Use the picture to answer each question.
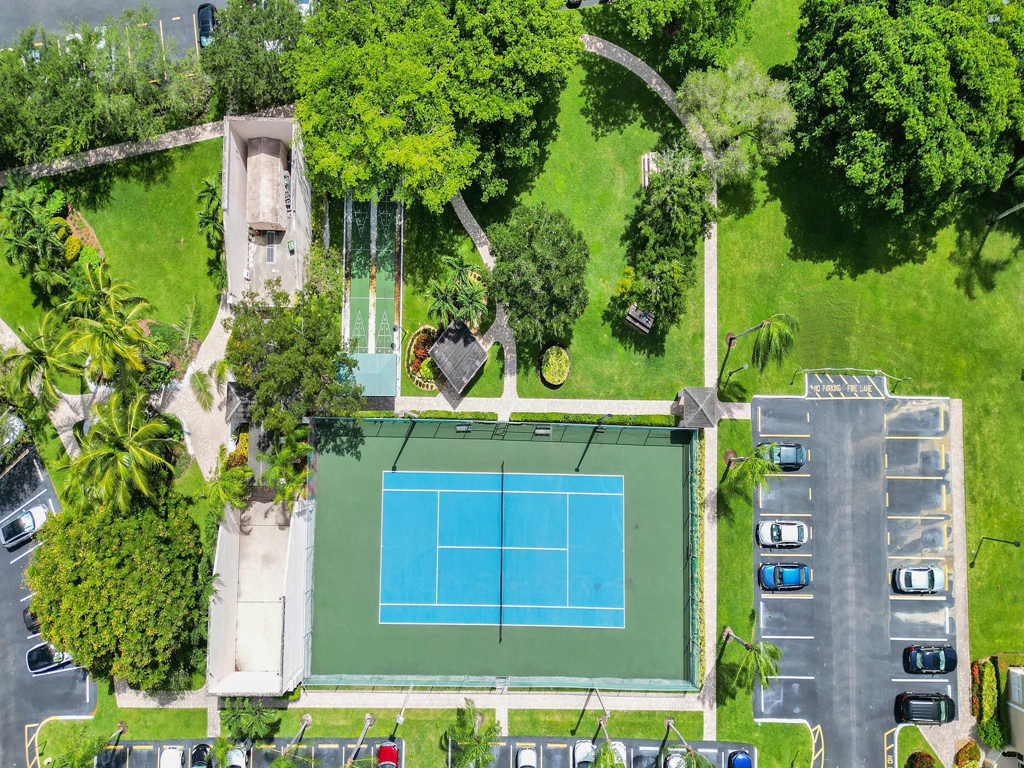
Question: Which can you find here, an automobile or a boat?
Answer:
automobile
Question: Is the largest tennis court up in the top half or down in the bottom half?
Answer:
bottom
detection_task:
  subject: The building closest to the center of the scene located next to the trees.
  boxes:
[429,320,489,394]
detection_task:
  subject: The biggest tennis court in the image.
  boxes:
[313,420,690,680]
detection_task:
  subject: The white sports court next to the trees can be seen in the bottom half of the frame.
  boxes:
[204,498,306,697]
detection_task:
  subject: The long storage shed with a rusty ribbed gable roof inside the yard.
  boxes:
[247,137,286,229]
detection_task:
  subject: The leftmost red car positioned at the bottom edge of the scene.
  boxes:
[376,740,399,768]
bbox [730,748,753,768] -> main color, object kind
blue car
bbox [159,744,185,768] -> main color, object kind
white car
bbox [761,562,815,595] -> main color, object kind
blue car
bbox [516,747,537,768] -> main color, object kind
white car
